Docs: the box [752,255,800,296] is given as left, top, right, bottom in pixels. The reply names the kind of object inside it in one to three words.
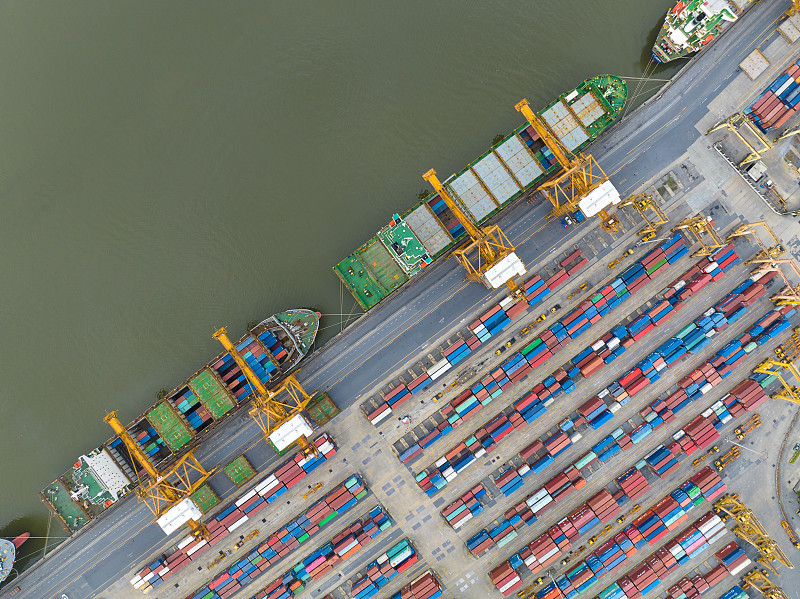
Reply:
container crane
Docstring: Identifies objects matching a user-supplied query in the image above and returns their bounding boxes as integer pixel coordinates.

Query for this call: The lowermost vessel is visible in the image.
[0,537,32,581]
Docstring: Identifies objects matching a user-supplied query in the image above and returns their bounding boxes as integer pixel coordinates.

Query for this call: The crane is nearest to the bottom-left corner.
[97,406,220,547]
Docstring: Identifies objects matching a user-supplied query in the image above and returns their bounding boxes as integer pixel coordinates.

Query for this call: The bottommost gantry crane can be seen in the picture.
[739,567,789,599]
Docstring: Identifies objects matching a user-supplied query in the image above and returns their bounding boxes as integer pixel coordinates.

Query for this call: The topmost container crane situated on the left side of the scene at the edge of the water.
[207,323,324,464]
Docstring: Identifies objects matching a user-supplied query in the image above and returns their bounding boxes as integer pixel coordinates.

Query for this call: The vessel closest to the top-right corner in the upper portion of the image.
[650,0,755,64]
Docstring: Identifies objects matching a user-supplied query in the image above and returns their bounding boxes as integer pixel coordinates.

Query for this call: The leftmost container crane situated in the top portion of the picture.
[419,165,530,308]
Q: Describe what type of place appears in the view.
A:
port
